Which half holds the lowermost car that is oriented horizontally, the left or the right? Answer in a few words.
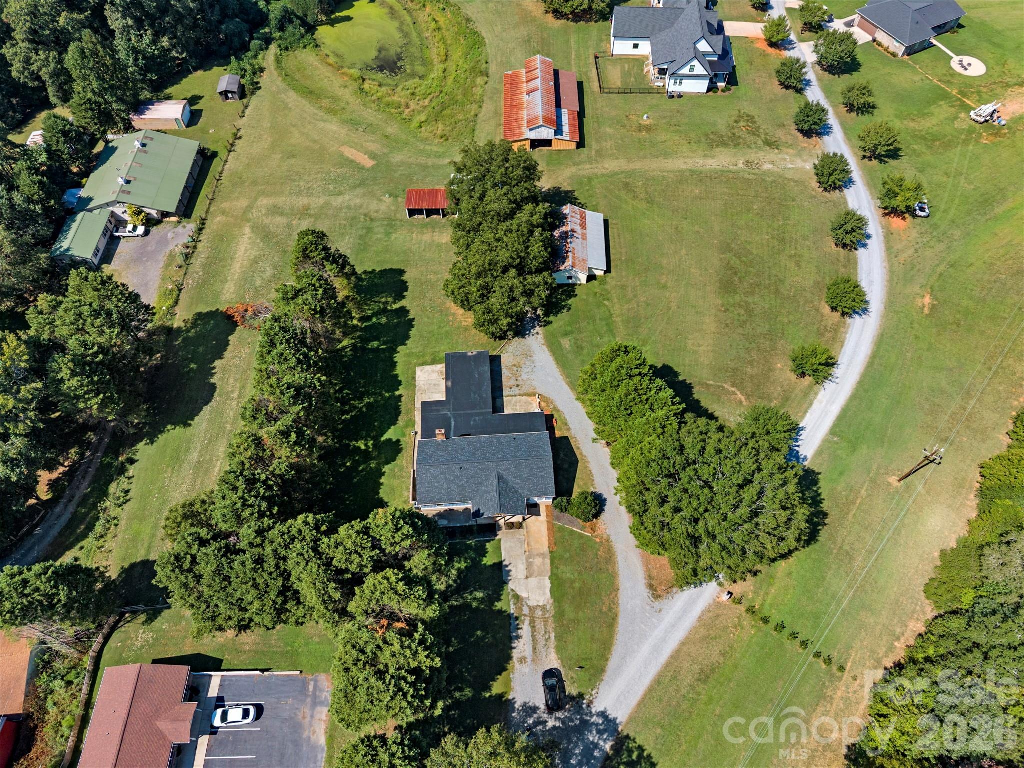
left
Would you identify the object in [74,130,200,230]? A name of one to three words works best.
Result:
barn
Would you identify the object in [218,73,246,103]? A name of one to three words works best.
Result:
shed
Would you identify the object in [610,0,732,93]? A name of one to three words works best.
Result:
house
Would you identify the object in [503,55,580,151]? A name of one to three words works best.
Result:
barn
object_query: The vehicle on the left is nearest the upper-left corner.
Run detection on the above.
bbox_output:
[111,224,148,239]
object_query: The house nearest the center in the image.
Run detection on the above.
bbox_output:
[414,350,555,525]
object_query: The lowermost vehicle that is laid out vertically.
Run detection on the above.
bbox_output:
[543,668,563,713]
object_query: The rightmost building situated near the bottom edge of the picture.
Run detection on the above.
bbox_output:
[77,663,205,768]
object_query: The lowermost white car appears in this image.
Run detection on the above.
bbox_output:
[212,705,257,728]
